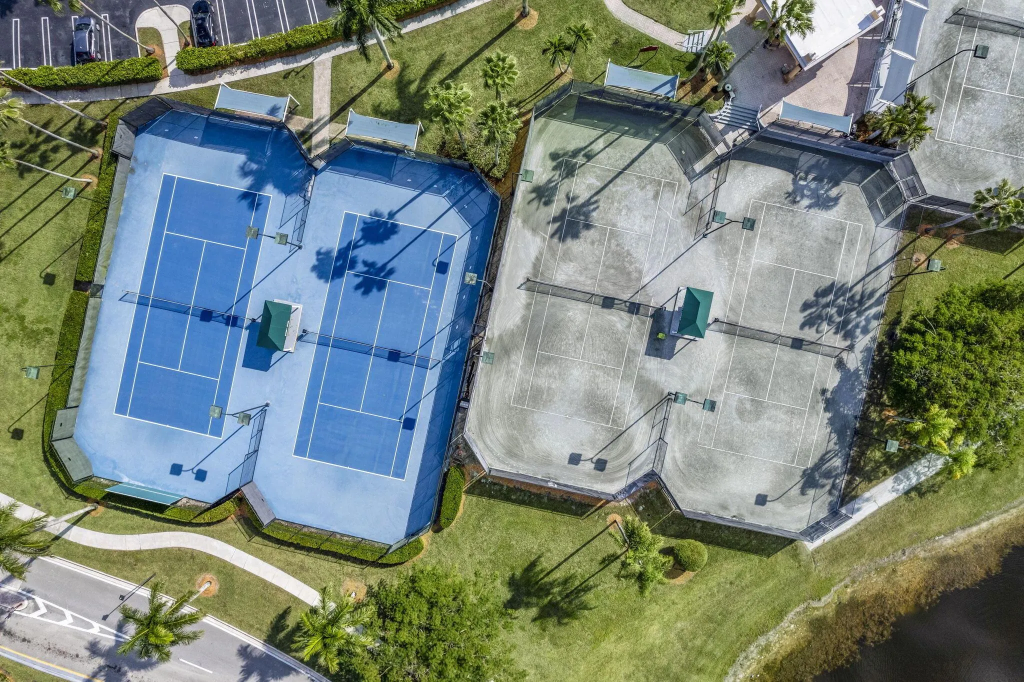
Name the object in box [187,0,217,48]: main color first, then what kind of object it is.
black car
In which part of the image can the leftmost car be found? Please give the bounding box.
[69,15,99,64]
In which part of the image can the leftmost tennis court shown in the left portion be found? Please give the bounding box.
[73,108,318,503]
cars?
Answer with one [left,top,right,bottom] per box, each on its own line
[69,15,99,64]
[187,0,217,48]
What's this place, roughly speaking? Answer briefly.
sports ground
